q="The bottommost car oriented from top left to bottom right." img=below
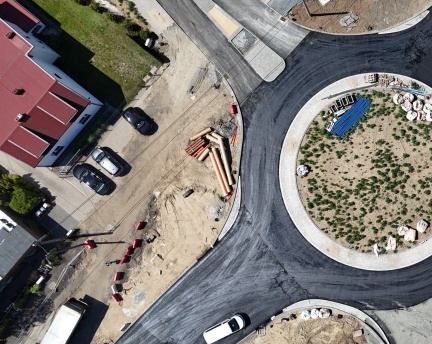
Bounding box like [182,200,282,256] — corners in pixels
[77,163,112,194]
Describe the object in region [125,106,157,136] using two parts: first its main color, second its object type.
black car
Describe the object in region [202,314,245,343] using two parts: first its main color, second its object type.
white van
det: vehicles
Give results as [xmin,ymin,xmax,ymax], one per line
[125,106,157,136]
[202,314,245,343]
[91,147,126,176]
[41,299,92,344]
[77,163,112,194]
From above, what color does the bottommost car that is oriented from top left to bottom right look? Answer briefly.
black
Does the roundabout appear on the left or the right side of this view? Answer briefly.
right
